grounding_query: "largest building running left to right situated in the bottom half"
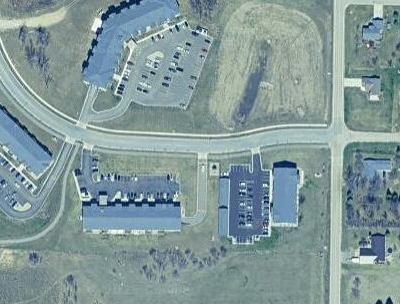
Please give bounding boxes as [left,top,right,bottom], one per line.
[83,195,181,236]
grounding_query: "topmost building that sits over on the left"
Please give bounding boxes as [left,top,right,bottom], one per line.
[82,0,180,89]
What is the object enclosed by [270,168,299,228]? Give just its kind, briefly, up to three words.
building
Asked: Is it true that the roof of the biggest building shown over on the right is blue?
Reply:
Yes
